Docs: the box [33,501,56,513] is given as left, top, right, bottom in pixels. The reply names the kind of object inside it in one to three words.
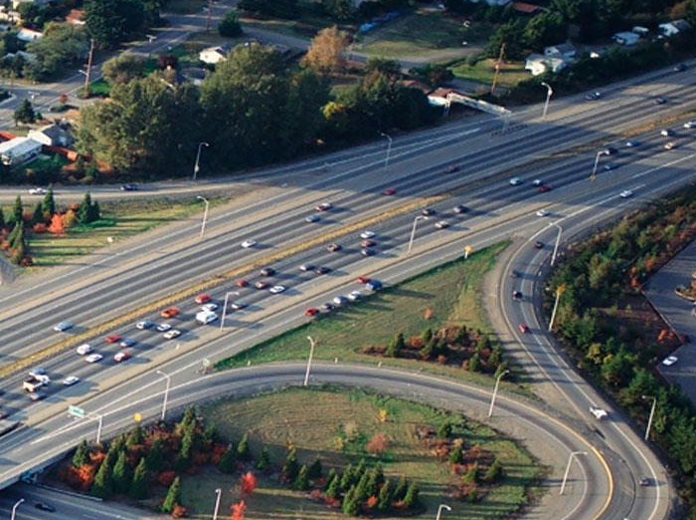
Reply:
vehicle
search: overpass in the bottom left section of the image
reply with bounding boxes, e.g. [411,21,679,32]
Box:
[0,419,135,493]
